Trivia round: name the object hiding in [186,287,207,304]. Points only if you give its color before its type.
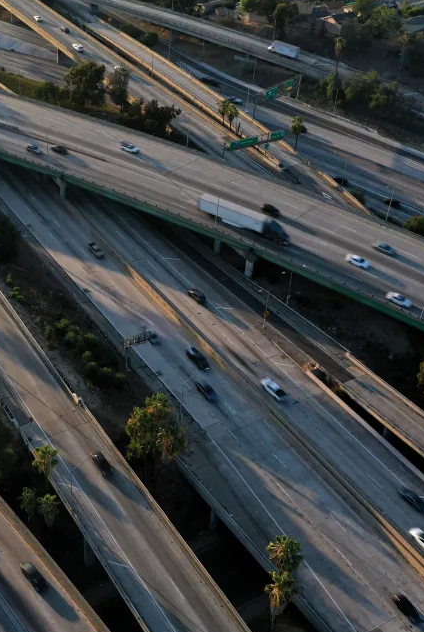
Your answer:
black car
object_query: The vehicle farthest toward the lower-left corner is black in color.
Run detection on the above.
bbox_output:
[17,555,51,596]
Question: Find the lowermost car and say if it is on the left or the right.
right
